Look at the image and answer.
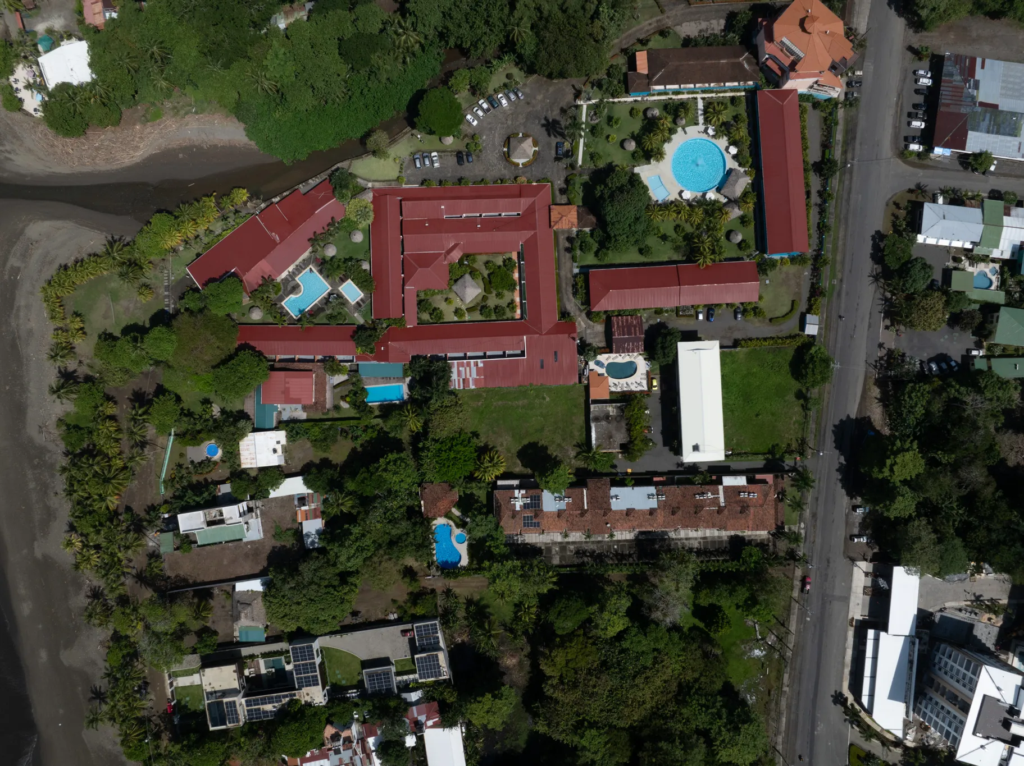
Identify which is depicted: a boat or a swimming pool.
swimming pool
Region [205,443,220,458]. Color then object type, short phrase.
blue swimming pool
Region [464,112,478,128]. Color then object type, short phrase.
white car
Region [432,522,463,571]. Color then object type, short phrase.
blue swimming pool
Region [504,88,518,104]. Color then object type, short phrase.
gray car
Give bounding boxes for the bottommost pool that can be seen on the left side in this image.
[262,656,288,690]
